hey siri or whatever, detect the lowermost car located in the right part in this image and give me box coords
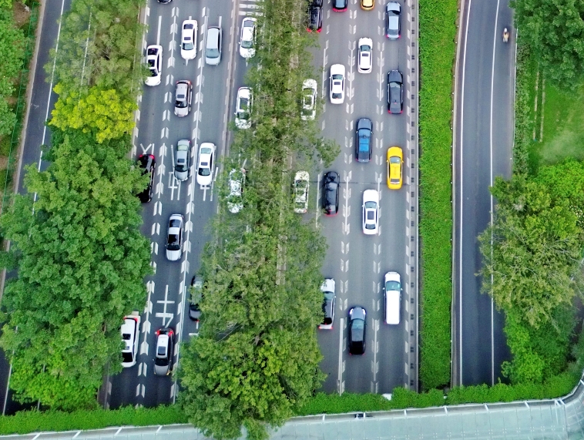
[347,303,368,357]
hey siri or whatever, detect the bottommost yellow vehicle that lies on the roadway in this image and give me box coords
[385,145,405,190]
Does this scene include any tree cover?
Yes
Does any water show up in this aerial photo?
No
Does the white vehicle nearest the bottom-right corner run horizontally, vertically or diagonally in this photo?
vertically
